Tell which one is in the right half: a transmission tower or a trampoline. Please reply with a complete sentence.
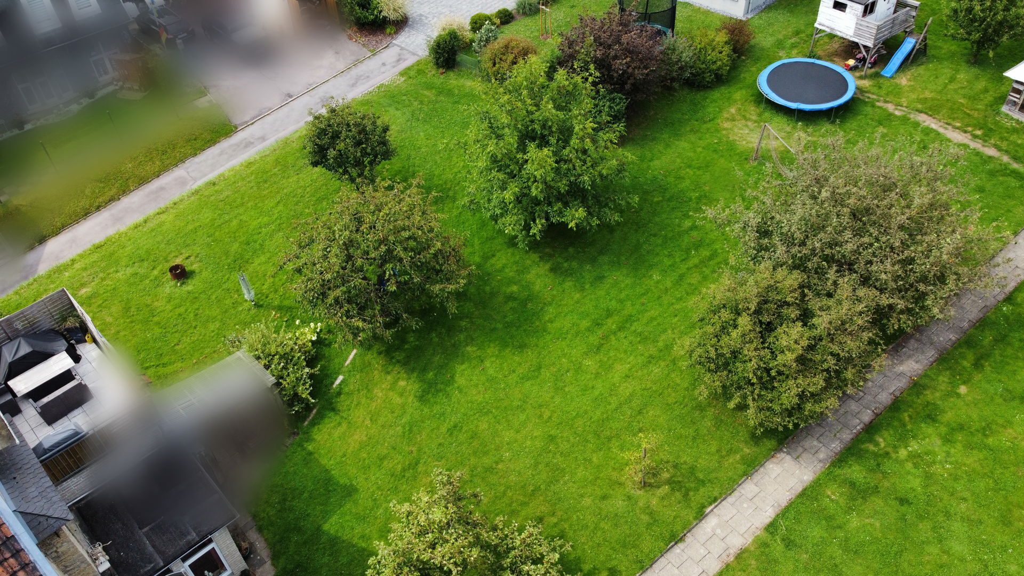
Visible in the right half is a trampoline.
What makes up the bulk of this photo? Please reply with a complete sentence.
The bulk of the photo consists of grass.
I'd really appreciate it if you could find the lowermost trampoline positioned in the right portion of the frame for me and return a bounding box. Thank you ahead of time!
[754,58,857,128]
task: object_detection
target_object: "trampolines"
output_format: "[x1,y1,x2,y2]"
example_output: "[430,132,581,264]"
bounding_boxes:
[754,58,857,128]
[611,0,680,54]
